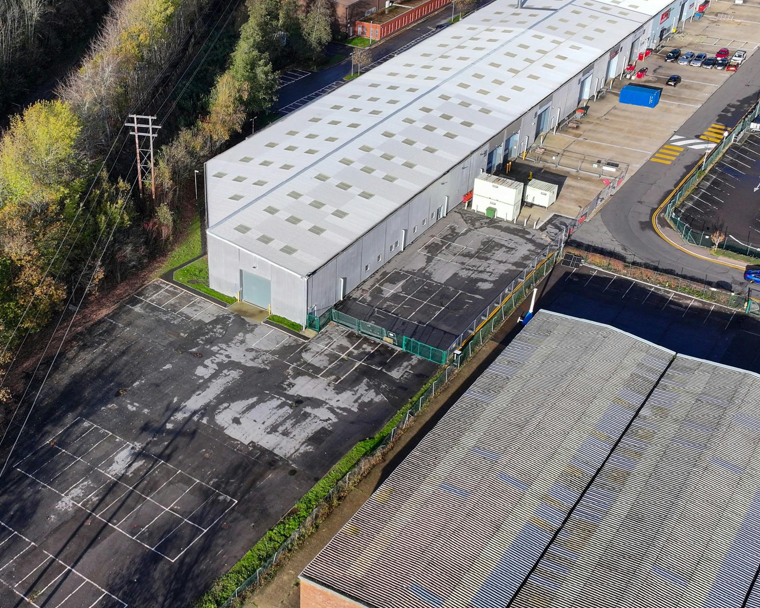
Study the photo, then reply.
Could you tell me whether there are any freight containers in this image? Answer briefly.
Yes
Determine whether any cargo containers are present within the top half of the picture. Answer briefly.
Yes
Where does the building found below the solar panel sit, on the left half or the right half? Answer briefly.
right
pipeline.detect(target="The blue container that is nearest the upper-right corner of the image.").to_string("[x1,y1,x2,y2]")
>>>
[621,84,659,109]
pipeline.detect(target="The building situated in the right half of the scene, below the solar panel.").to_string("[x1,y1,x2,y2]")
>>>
[291,306,760,608]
